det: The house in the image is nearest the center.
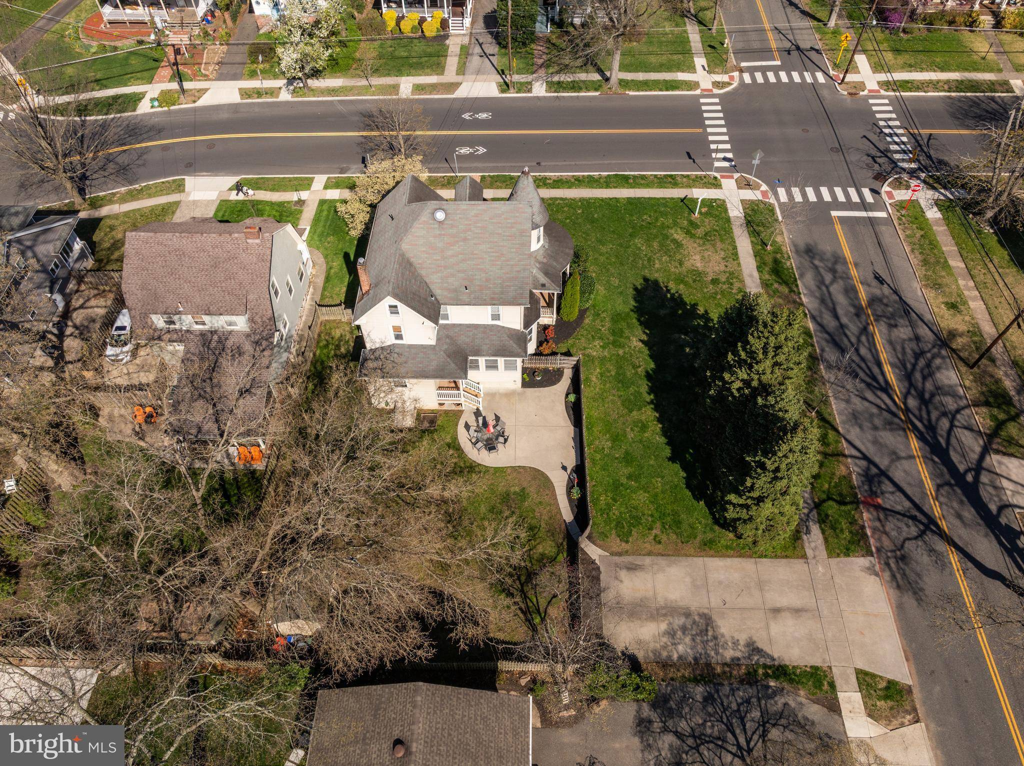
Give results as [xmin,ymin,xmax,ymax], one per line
[351,164,577,411]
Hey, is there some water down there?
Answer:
No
